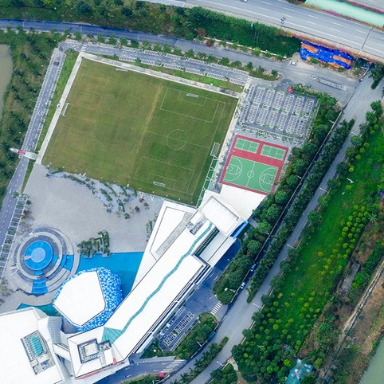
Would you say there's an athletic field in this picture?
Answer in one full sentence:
Yes, this view includes an athletic field.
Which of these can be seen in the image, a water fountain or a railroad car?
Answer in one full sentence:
Visible in the photo is a water fountain.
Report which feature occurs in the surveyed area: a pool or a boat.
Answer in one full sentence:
Of the two, only a pool appears.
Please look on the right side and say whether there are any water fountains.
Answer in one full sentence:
No, looking on the right side, there is no water fountain.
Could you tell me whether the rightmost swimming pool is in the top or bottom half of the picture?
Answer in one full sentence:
You can find the rightmost swimming pool in the bottom half.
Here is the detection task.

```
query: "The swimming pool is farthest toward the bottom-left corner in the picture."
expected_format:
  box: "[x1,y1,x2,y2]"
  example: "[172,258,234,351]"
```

[17,303,65,317]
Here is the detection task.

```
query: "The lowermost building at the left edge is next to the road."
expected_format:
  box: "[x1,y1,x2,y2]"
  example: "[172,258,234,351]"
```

[0,307,136,384]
